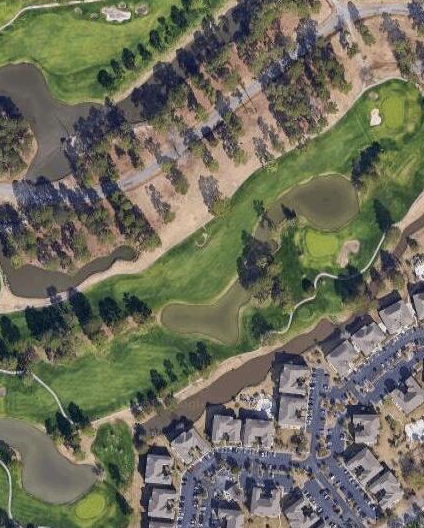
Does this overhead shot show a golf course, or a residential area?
golf course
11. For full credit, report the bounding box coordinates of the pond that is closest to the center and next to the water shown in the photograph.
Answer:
[161,281,248,344]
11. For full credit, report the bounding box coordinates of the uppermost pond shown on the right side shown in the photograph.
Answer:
[254,174,359,249]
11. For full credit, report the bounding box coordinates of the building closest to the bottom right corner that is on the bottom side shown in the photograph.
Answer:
[367,470,405,509]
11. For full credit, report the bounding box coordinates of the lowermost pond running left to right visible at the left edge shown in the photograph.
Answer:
[0,239,137,297]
